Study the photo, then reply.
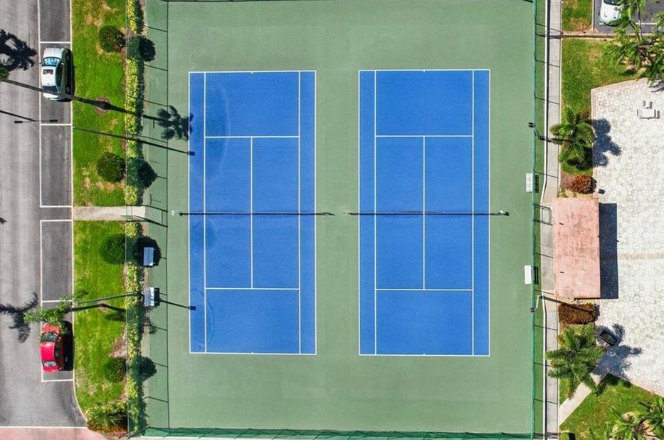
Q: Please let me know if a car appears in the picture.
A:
Yes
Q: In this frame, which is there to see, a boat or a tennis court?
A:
tennis court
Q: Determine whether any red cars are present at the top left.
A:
No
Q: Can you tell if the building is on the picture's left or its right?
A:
right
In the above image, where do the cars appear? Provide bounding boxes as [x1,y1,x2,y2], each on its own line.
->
[601,0,628,23]
[36,45,68,99]
[34,320,66,374]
